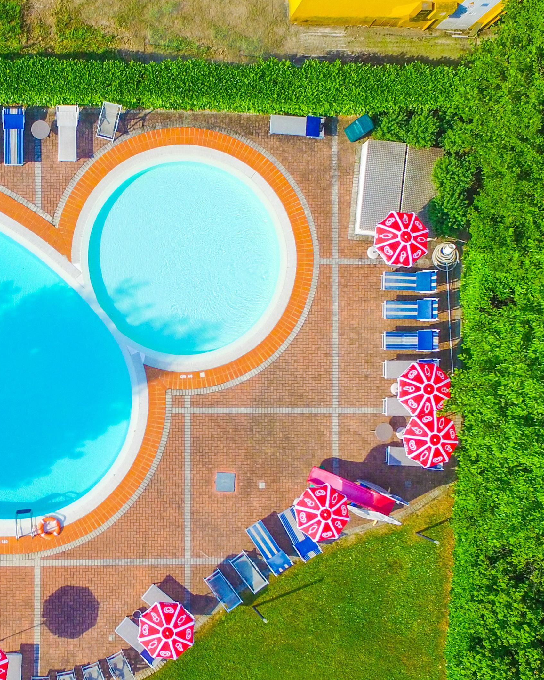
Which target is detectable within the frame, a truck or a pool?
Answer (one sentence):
Looking from above, you can make out a pool.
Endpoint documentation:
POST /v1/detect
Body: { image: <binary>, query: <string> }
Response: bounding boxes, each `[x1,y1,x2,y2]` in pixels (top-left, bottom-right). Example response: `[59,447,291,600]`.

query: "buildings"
[355,140,445,239]
[291,0,520,39]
